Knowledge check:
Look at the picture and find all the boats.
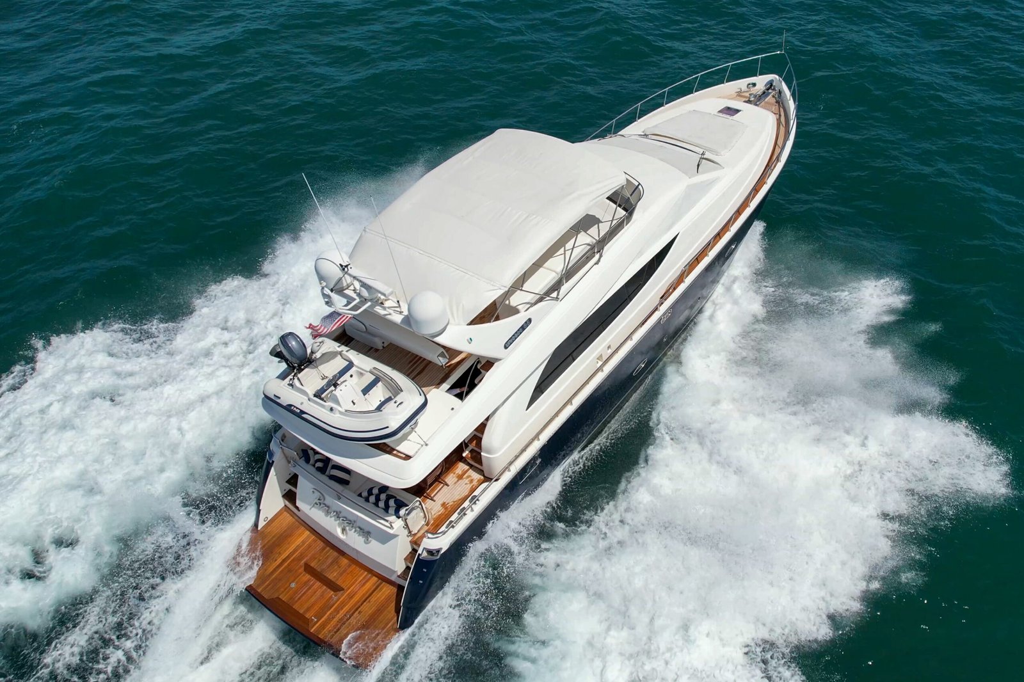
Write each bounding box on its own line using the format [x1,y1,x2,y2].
[261,325,431,440]
[216,26,801,661]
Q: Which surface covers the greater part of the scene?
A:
water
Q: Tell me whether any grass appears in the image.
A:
No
